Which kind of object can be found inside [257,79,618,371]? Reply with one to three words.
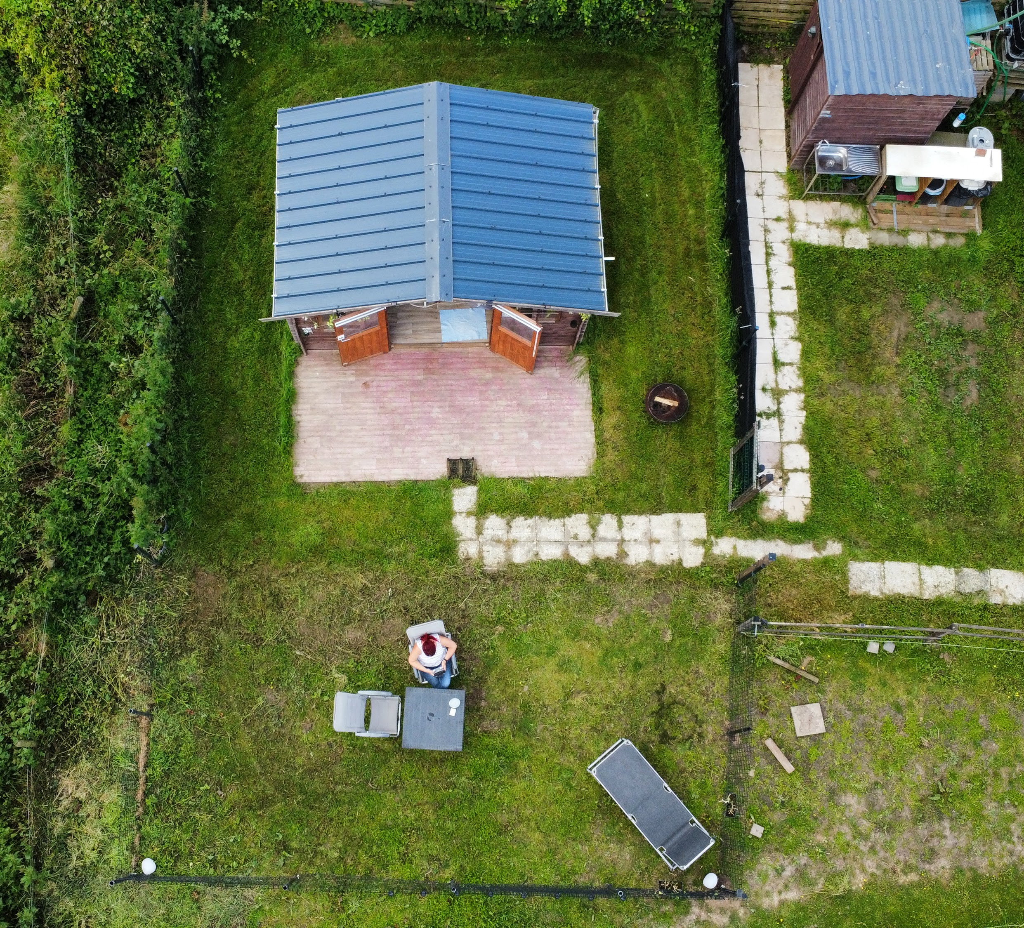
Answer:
house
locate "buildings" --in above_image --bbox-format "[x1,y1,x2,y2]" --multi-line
[257,79,618,371]
[779,0,979,169]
